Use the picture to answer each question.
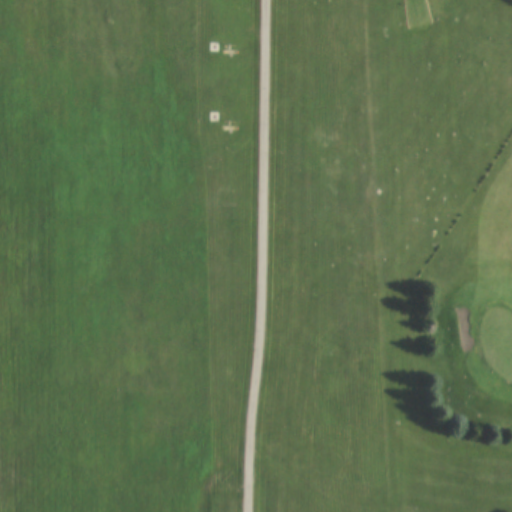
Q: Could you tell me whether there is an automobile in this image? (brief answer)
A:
No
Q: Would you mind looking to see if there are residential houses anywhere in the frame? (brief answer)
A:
No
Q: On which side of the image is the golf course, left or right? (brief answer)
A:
right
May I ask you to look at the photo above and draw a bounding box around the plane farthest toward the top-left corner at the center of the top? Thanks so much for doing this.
[223,44,240,58]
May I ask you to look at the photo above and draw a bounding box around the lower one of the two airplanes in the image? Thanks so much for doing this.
[223,120,239,134]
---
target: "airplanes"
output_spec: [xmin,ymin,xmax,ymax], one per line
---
[223,120,239,134]
[223,44,240,58]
